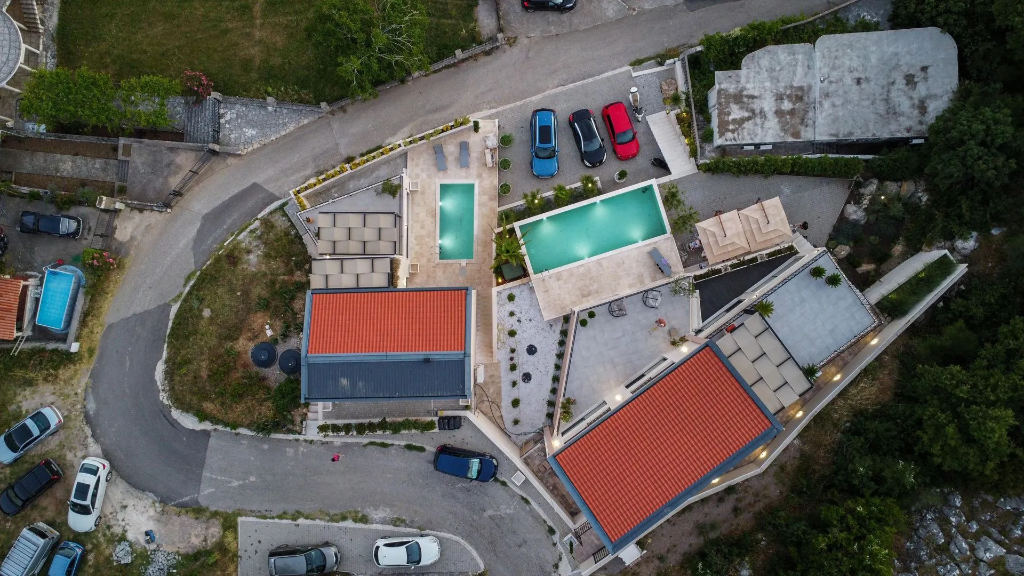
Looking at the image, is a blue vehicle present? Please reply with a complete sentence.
Yes, there is a blue vehicle in the image.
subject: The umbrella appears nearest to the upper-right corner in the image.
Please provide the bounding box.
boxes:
[735,197,793,252]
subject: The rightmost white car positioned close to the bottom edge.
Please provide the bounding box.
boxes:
[373,532,442,568]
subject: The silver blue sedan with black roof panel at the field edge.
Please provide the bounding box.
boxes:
[0,405,68,459]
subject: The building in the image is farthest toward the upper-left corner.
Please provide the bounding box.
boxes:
[97,195,142,214]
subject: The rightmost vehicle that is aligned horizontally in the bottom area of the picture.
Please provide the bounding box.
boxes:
[433,446,499,485]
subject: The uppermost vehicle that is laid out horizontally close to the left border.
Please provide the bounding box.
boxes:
[18,208,90,241]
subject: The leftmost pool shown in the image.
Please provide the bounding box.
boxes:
[35,265,88,330]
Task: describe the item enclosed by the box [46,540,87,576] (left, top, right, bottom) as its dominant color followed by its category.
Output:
blue car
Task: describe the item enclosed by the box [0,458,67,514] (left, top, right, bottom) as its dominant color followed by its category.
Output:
black car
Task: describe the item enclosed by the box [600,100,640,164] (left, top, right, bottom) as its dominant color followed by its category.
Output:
red car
